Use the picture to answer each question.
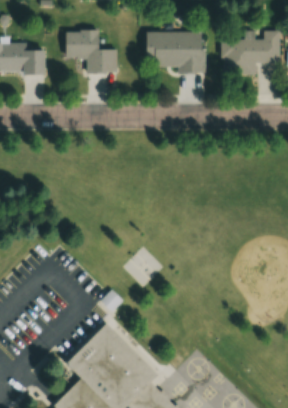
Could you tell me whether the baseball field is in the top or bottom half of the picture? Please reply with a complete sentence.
Seen from above, the baseball field lies in the bottom half of the view.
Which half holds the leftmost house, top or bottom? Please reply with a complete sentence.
Seen from above, the leftmost house lies in the top half of the view.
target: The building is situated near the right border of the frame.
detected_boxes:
[222,31,282,76]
